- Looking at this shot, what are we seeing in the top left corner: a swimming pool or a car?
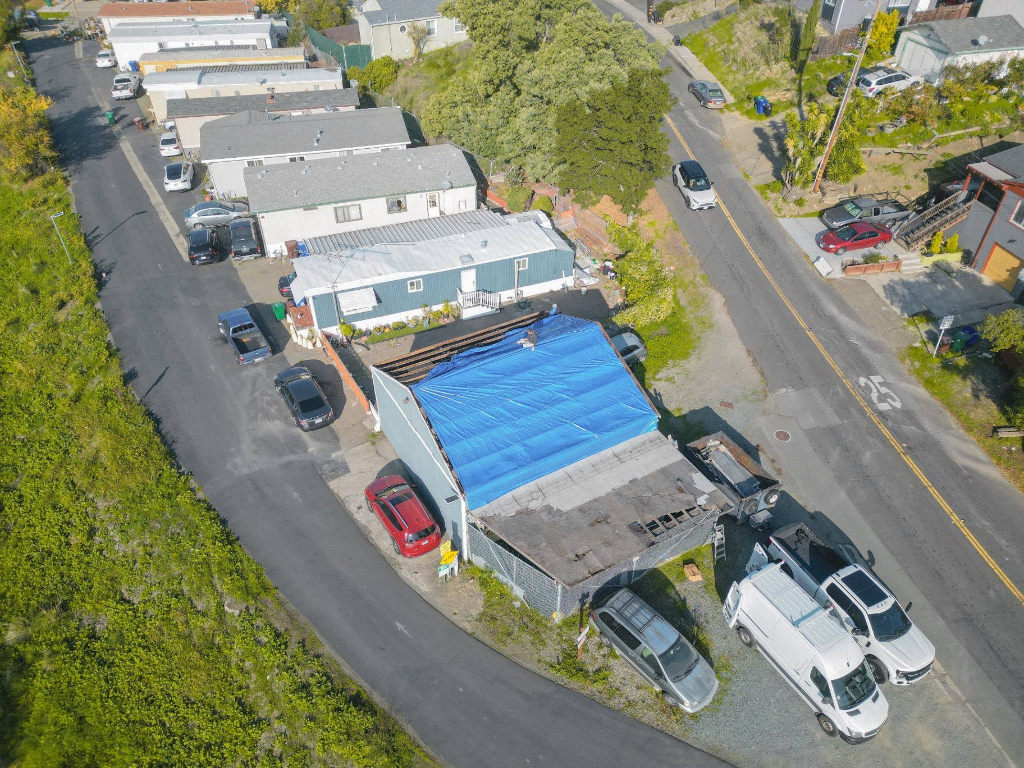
car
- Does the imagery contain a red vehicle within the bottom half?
Yes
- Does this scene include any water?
No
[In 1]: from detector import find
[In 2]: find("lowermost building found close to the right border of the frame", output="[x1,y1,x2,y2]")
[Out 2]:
[895,135,1024,302]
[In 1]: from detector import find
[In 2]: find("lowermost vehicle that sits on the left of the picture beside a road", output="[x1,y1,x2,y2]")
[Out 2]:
[362,471,444,566]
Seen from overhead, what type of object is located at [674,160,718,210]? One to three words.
car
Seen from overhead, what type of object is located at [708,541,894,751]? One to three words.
van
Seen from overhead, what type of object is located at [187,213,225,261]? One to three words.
car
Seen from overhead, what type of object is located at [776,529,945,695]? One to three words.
truck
